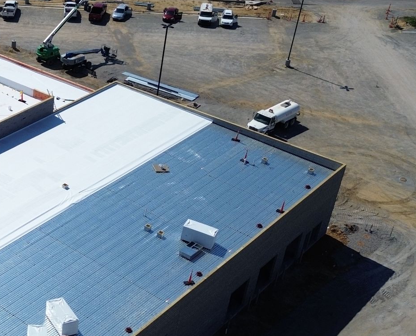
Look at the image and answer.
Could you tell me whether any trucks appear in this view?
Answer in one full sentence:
Yes, a truck is visible in the scene.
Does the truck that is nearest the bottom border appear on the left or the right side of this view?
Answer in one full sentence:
The truck that is nearest the bottom border appears in the right half of the scene.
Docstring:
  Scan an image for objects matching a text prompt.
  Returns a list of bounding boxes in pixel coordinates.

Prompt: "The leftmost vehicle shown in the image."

[2,0,19,18]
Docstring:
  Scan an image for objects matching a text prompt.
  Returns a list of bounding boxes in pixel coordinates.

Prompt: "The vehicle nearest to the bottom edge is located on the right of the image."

[244,96,306,137]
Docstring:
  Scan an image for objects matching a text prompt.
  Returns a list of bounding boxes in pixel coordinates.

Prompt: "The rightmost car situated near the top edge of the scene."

[212,9,234,28]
